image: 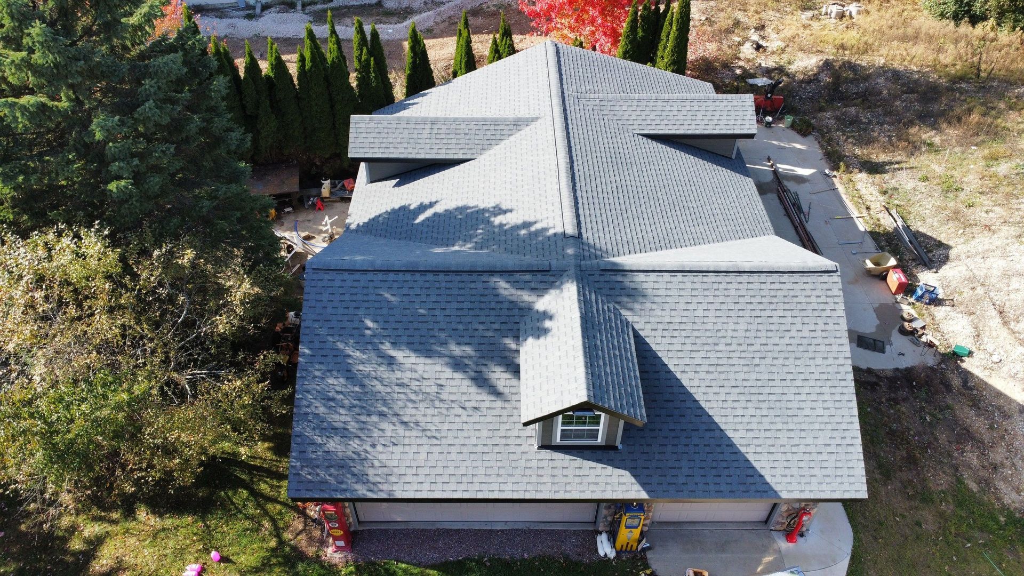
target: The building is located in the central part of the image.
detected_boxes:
[289,40,868,534]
